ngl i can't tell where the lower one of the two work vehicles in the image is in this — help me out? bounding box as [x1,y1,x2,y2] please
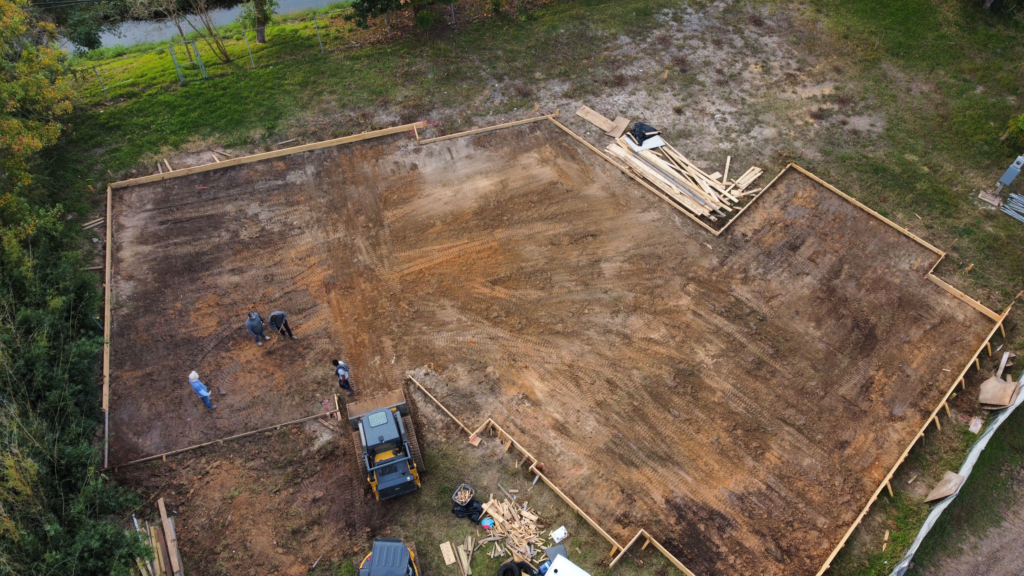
[354,539,424,576]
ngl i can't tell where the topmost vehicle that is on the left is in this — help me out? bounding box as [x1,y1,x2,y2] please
[346,387,425,505]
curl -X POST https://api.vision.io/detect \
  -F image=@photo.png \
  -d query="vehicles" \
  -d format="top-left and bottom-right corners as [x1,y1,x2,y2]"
[354,539,424,576]
[346,387,425,505]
